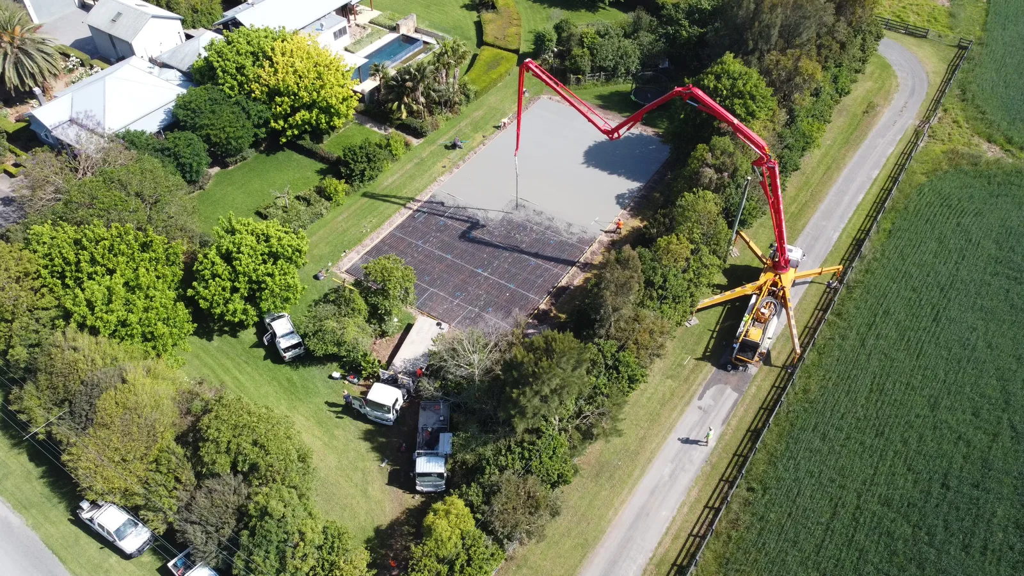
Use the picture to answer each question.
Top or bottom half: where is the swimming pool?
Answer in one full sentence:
Seen from above, the swimming pool lies in the top half of the view.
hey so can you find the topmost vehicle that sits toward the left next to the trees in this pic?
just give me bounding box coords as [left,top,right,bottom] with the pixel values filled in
[255,306,306,361]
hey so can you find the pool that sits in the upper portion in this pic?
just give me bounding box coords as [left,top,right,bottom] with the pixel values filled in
[347,30,439,84]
